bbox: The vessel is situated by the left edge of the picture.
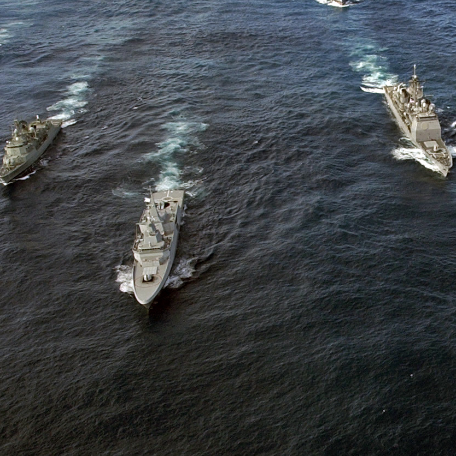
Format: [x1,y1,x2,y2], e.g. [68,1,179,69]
[0,117,66,185]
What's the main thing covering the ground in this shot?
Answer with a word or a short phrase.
water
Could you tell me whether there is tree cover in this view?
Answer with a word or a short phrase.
No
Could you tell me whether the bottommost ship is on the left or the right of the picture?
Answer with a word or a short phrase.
left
